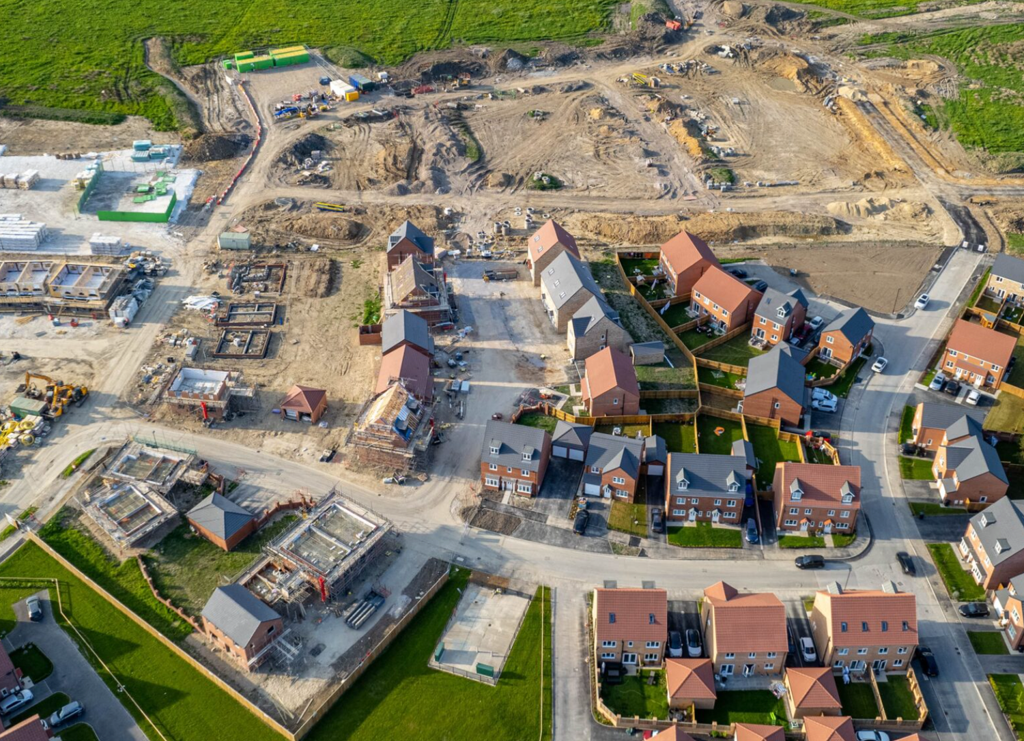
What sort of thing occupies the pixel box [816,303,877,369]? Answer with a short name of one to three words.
house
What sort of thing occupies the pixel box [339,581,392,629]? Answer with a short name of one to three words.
trailer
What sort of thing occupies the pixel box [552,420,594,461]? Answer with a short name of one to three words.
building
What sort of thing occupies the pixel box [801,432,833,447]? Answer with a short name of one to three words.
car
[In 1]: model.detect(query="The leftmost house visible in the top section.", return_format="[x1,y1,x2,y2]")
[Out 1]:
[0,258,63,313]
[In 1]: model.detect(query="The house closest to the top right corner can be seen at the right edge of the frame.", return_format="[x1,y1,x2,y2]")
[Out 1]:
[984,251,1024,307]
